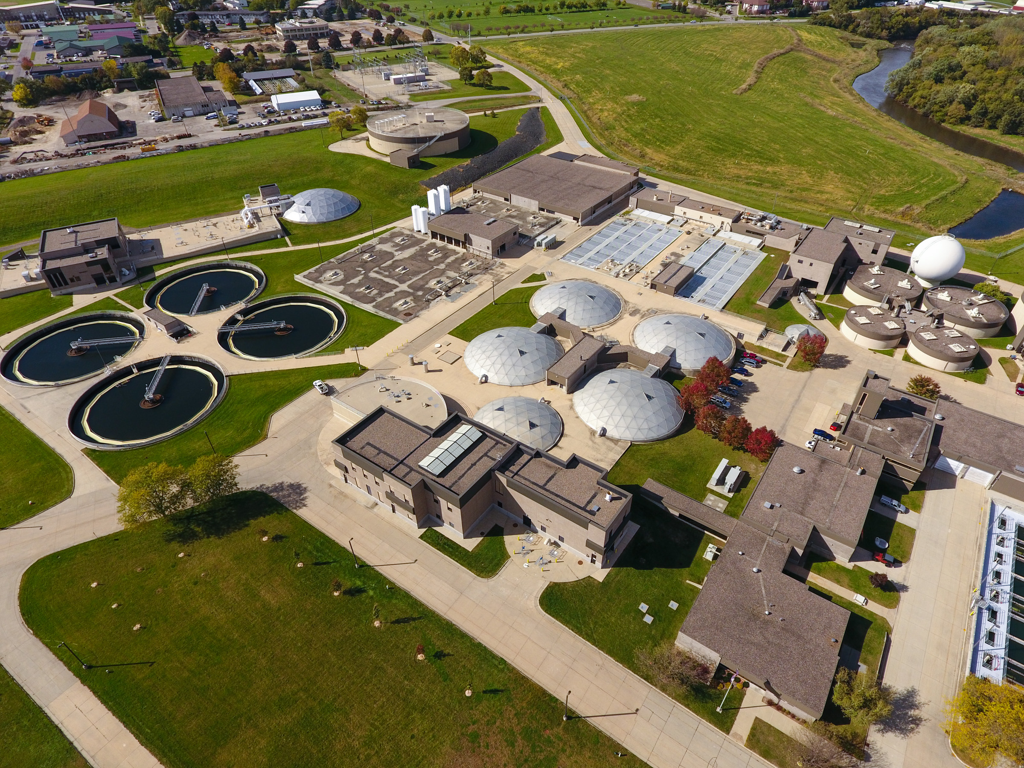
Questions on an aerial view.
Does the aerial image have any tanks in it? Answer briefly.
Yes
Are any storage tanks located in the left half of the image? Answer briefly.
Yes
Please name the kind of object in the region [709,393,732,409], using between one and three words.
vehicle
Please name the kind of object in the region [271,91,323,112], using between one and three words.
shed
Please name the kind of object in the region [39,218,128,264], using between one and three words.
building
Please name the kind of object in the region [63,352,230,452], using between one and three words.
storage tank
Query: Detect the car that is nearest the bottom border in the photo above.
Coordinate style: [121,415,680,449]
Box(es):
[871,552,898,569]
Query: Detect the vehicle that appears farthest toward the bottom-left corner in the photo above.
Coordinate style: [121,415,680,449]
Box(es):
[313,381,328,394]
